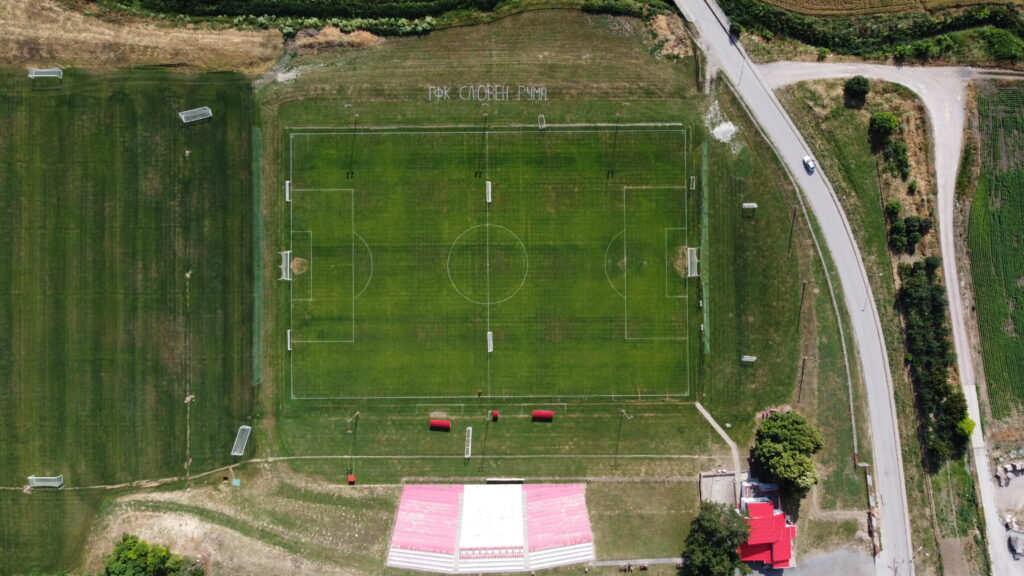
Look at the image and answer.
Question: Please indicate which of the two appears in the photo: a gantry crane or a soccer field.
soccer field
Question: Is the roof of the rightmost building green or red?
red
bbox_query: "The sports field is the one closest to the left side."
[0,76,252,470]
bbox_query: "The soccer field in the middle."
[286,127,693,414]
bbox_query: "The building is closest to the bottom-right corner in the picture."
[735,478,796,567]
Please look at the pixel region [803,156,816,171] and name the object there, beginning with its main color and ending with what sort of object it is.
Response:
white vehicle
